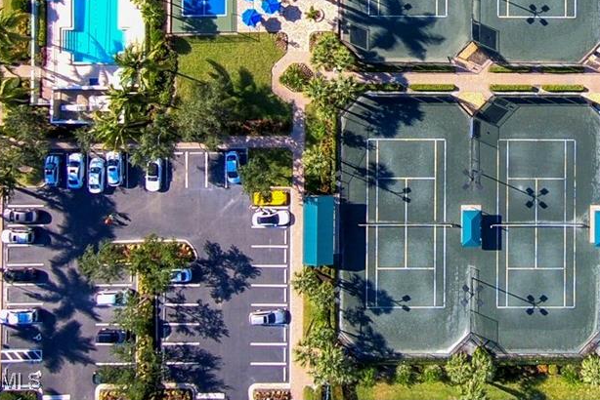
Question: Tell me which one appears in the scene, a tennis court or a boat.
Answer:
tennis court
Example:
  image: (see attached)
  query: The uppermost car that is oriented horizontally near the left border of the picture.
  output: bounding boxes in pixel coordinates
[4,208,38,224]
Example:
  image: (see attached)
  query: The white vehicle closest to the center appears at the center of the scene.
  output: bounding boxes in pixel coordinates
[254,210,289,226]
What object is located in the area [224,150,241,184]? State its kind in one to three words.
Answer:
car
